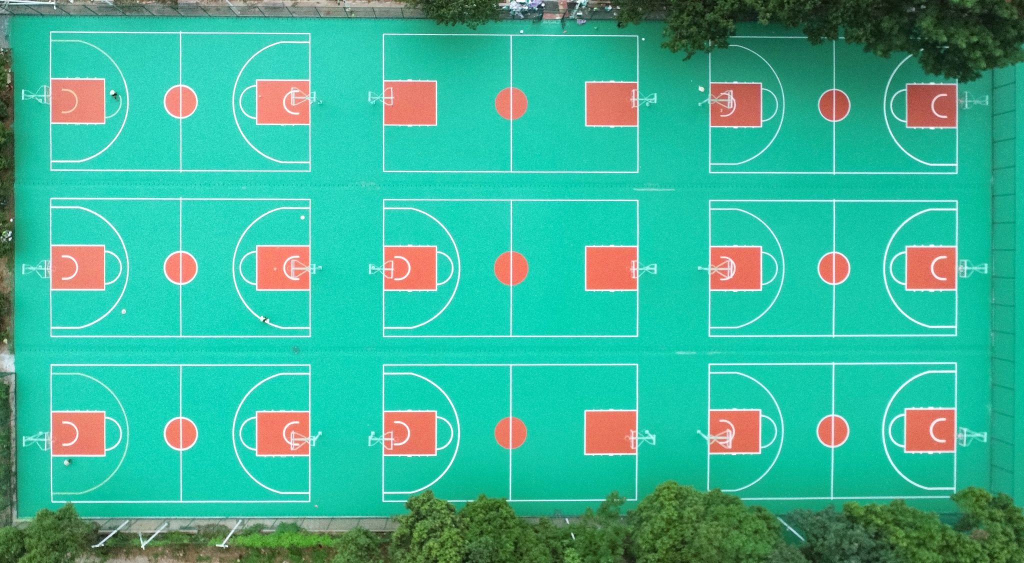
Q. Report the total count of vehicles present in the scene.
0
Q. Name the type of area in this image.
sports ground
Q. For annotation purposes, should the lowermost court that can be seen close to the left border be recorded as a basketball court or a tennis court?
basketball court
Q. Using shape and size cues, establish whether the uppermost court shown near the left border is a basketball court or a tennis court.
basketball court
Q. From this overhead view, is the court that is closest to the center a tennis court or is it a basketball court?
basketball court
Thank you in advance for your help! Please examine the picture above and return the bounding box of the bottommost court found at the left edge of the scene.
[51,364,310,503]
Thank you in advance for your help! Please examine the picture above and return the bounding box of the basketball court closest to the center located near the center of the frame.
[383,199,638,337]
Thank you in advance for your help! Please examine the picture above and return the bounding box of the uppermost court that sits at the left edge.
[50,32,311,172]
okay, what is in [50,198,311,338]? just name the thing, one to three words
basketball court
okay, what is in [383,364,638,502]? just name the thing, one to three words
basketball court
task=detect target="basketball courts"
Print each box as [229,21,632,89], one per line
[383,364,638,502]
[708,363,957,500]
[383,34,638,173]
[383,199,638,337]
[51,364,310,503]
[709,200,958,337]
[709,36,958,174]
[50,198,311,338]
[50,32,311,172]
